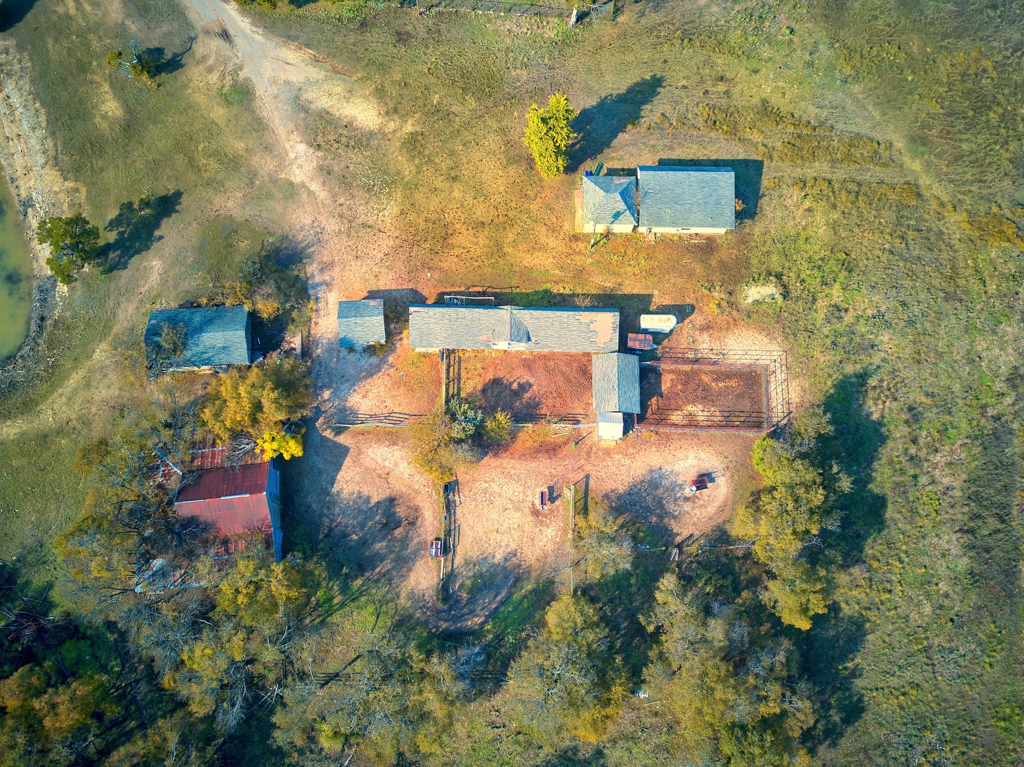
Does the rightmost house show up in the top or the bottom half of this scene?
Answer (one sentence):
The rightmost house sits in the top half of the picture.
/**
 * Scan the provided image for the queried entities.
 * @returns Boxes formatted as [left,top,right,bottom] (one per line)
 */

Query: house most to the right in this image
[636,166,738,247]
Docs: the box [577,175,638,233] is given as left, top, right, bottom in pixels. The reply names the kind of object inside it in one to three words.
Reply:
house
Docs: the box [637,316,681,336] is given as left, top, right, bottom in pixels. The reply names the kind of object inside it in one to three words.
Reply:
trailer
